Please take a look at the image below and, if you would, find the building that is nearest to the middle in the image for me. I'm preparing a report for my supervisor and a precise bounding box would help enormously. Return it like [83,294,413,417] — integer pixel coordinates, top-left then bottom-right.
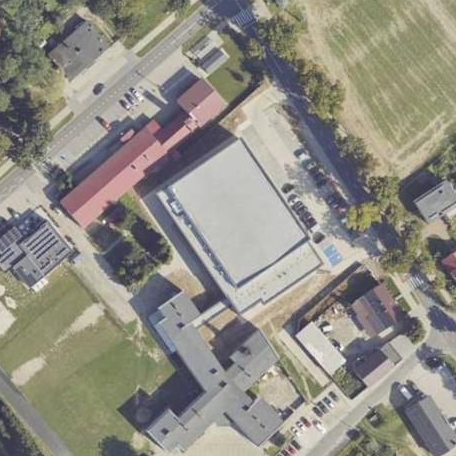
[157,140,322,311]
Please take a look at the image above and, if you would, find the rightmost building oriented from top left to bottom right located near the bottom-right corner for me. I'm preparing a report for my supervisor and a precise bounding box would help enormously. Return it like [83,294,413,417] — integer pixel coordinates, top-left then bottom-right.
[405,395,456,456]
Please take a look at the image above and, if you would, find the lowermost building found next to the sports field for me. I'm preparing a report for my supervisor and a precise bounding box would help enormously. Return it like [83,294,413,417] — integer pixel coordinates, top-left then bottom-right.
[147,291,284,452]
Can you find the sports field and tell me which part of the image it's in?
bottom left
